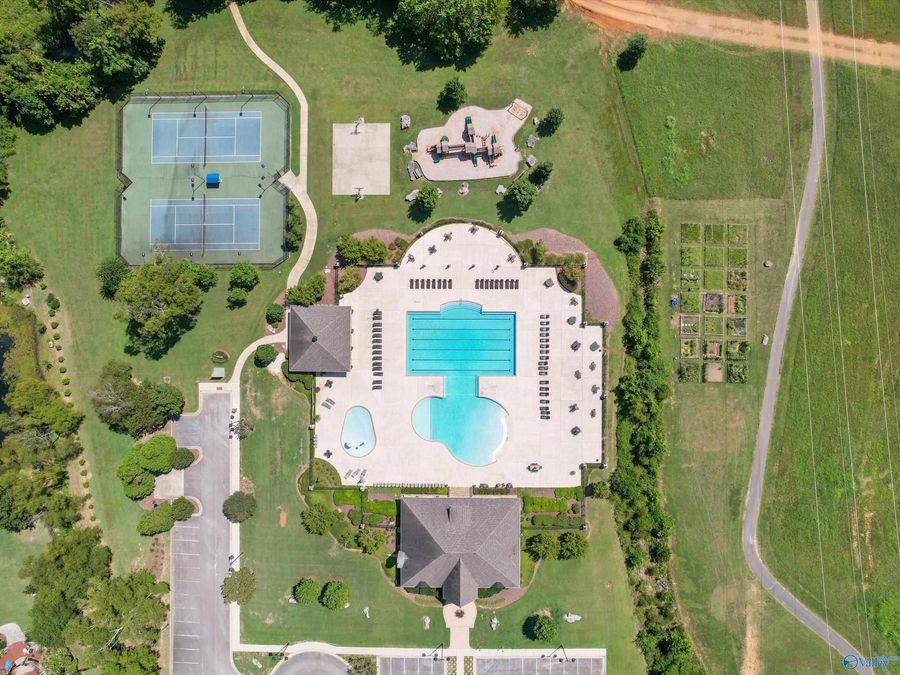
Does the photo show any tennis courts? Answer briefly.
Yes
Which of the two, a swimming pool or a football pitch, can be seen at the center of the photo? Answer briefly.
swimming pool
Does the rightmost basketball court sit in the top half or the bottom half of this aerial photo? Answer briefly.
top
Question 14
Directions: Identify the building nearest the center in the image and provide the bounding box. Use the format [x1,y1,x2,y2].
[289,303,352,372]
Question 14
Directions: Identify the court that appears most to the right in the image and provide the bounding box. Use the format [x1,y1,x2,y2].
[332,123,390,195]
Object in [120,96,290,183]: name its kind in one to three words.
tennis court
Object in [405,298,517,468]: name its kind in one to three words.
swimming pool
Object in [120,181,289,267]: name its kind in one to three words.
tennis court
